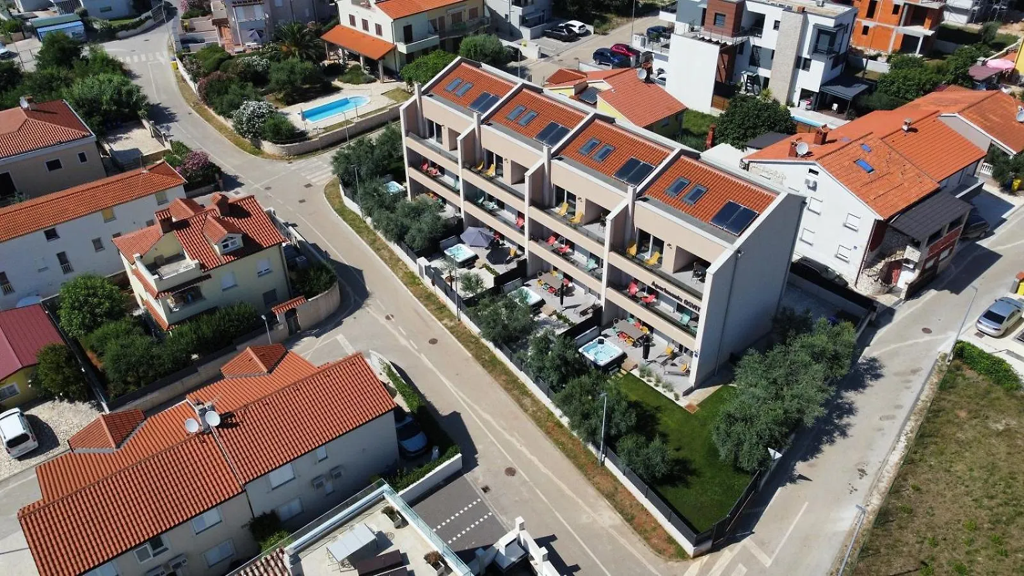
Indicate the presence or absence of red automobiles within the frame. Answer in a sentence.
Yes, there's a red automobile here.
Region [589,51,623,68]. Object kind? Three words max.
car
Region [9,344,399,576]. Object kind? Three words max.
house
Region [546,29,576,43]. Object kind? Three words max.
car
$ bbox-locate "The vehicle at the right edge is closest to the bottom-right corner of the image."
[979,297,1024,336]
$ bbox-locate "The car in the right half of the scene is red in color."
[610,44,642,60]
